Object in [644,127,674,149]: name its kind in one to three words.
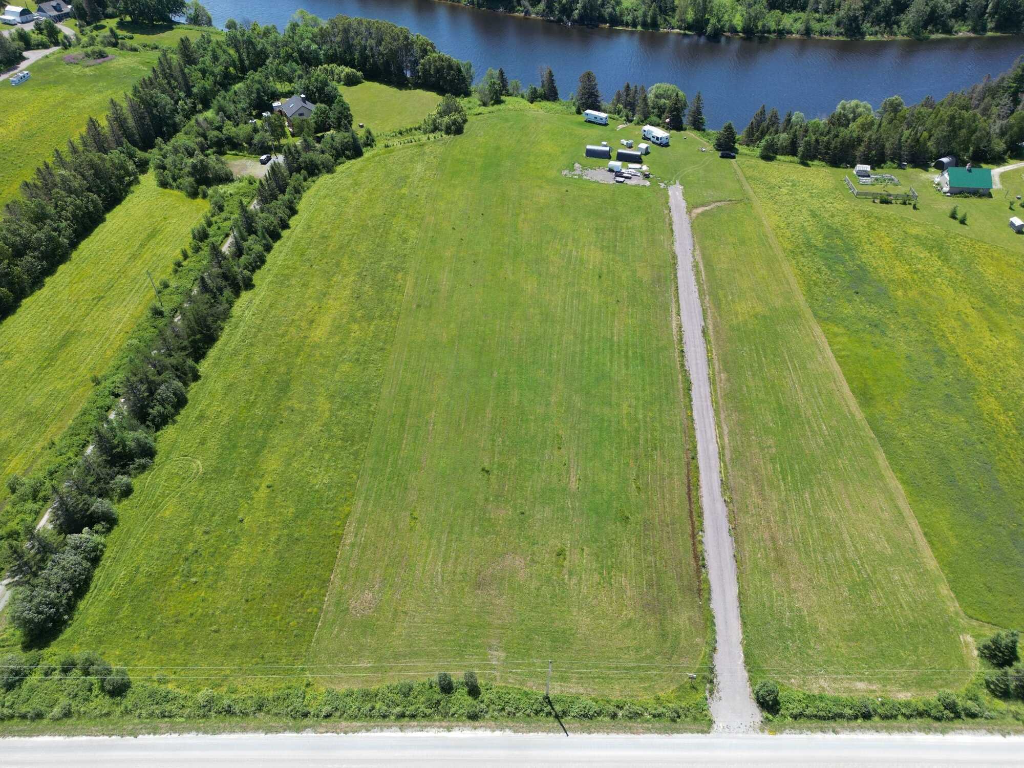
vehicle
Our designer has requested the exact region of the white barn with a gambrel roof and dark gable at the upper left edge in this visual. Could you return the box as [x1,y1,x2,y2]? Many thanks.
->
[3,2,36,24]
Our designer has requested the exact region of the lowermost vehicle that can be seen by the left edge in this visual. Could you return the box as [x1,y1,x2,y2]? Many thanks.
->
[3,68,30,84]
